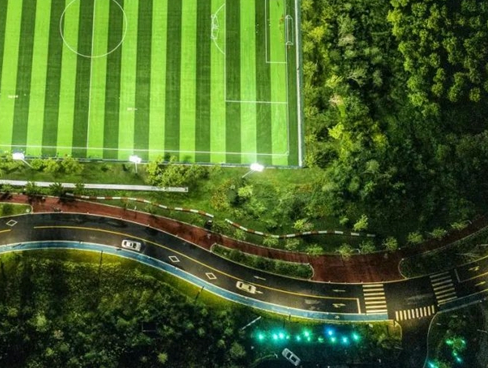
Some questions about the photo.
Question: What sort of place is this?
sports ground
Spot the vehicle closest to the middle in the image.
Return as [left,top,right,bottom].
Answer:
[237,281,257,294]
